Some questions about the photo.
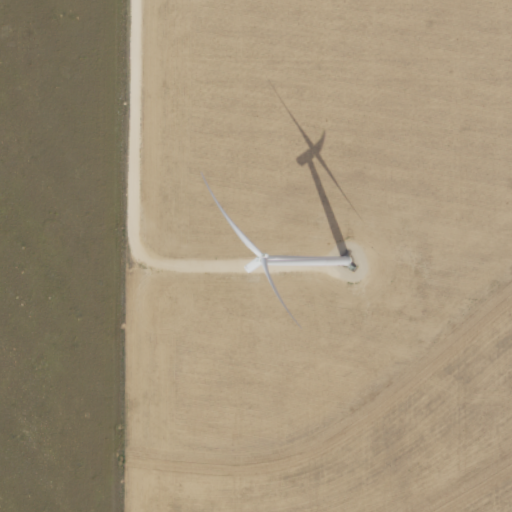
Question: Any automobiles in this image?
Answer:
No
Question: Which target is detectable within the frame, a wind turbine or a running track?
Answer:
wind turbine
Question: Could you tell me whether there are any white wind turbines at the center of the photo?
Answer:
Yes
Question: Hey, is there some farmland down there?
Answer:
Yes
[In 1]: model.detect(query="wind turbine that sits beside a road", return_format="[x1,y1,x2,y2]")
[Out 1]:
[202,180,354,332]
